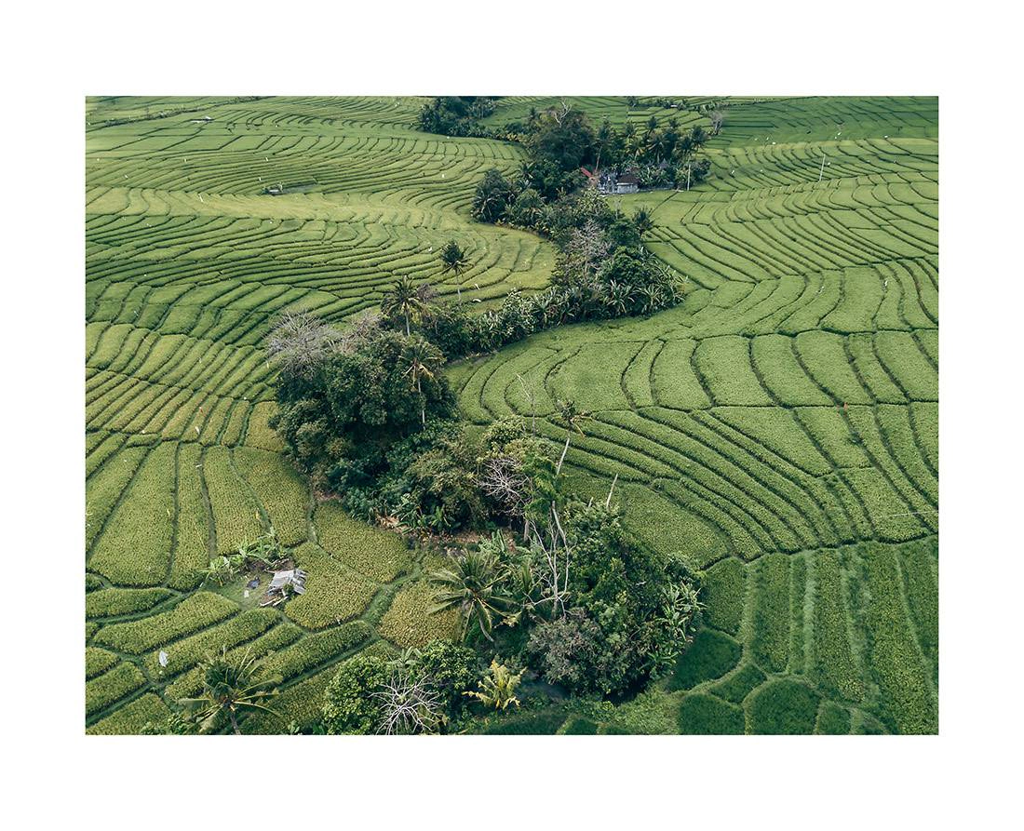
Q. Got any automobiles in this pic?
No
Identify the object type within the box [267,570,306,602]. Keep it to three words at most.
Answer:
shed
